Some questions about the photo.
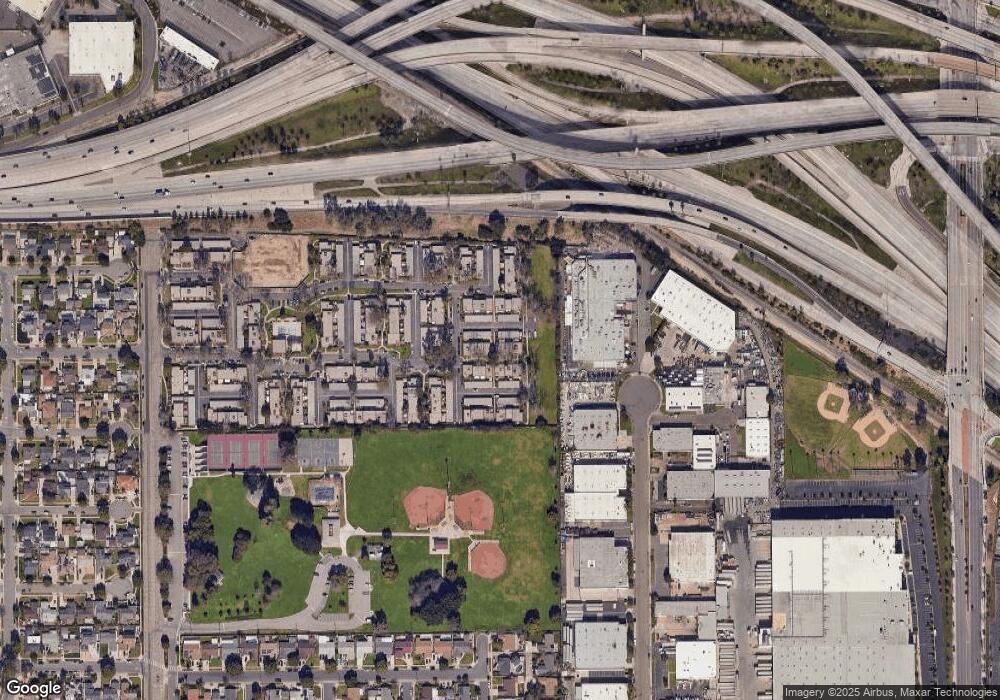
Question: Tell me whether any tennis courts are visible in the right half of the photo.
No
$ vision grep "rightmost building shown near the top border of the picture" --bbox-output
[160,26,219,70]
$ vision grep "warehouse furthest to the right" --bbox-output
[772,519,916,700]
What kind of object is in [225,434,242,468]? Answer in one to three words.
tennis court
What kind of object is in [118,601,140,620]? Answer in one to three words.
house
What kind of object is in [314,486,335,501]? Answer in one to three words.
swimming pool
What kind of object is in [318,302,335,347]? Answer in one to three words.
building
